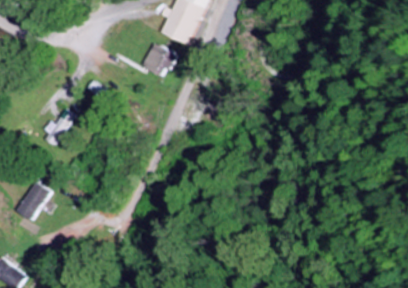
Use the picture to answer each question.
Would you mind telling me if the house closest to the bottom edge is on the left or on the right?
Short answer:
left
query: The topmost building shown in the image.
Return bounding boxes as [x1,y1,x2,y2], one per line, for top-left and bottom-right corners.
[159,0,212,44]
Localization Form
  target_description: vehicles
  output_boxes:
[108,53,118,62]
[108,80,118,89]
[154,4,166,15]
